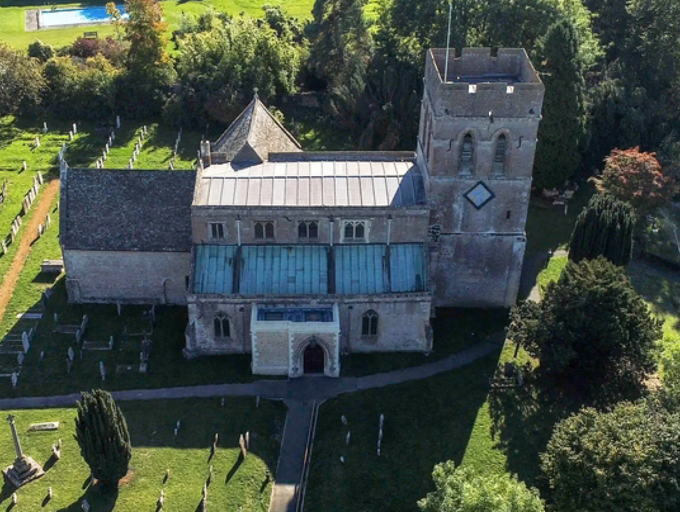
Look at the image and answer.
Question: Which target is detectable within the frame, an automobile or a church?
church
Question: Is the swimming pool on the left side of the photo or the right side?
left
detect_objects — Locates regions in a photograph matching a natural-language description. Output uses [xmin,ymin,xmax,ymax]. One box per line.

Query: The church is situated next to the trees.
[56,2,548,378]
